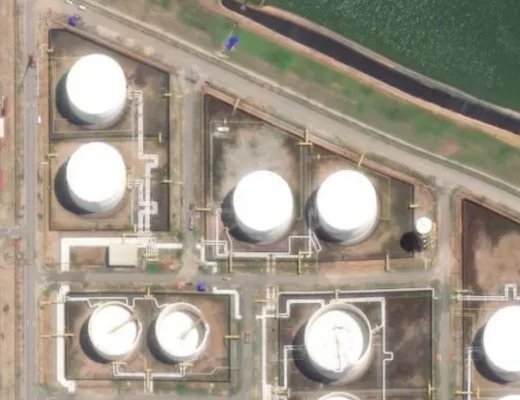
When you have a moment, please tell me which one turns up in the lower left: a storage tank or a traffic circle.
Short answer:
storage tank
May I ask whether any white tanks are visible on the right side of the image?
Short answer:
Yes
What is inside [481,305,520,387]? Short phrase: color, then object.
white storage tank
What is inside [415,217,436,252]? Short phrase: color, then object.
white water tower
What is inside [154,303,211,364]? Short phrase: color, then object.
white storage tank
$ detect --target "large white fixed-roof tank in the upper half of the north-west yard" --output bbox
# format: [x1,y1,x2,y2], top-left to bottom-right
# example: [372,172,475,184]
[66,55,131,129]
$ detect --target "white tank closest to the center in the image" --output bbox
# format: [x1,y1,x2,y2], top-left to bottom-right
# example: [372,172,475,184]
[232,171,298,246]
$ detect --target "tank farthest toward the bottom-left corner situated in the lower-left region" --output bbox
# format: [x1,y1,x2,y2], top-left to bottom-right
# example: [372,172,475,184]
[87,301,144,363]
